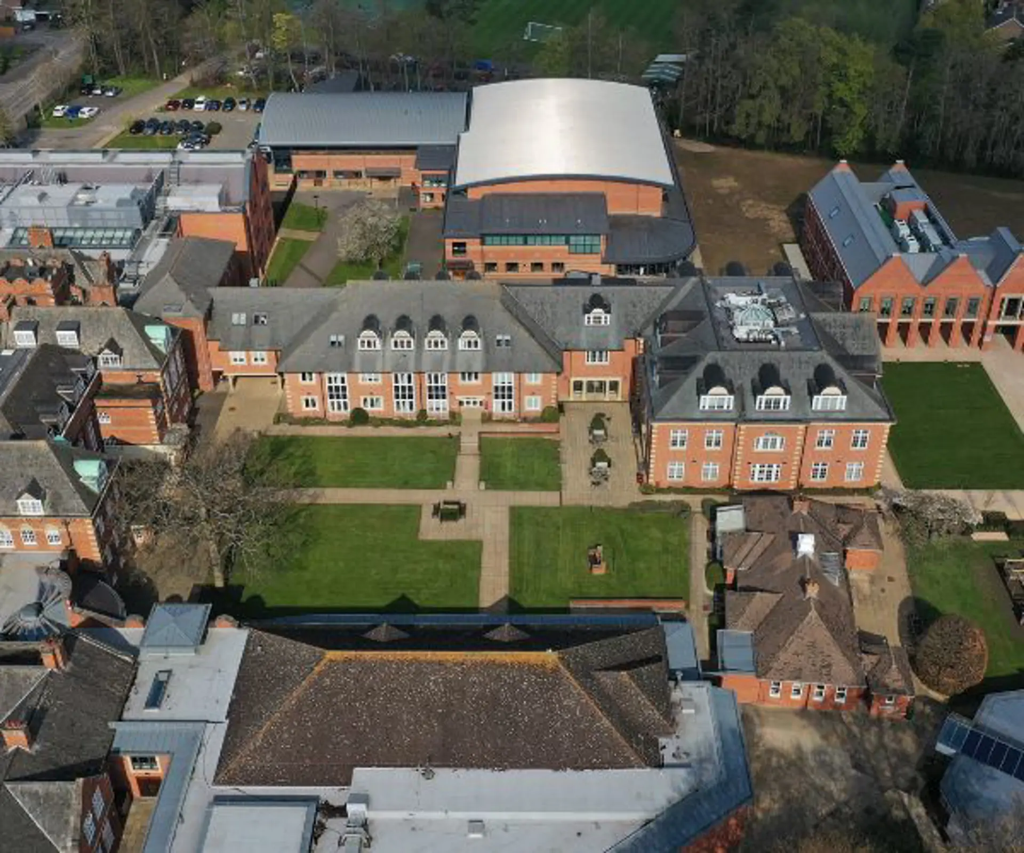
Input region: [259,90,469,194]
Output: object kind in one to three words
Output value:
building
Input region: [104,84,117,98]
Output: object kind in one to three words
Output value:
vehicle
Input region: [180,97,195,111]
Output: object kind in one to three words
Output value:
car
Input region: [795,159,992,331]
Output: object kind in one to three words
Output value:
building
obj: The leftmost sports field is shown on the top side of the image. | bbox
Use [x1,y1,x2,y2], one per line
[472,0,689,68]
